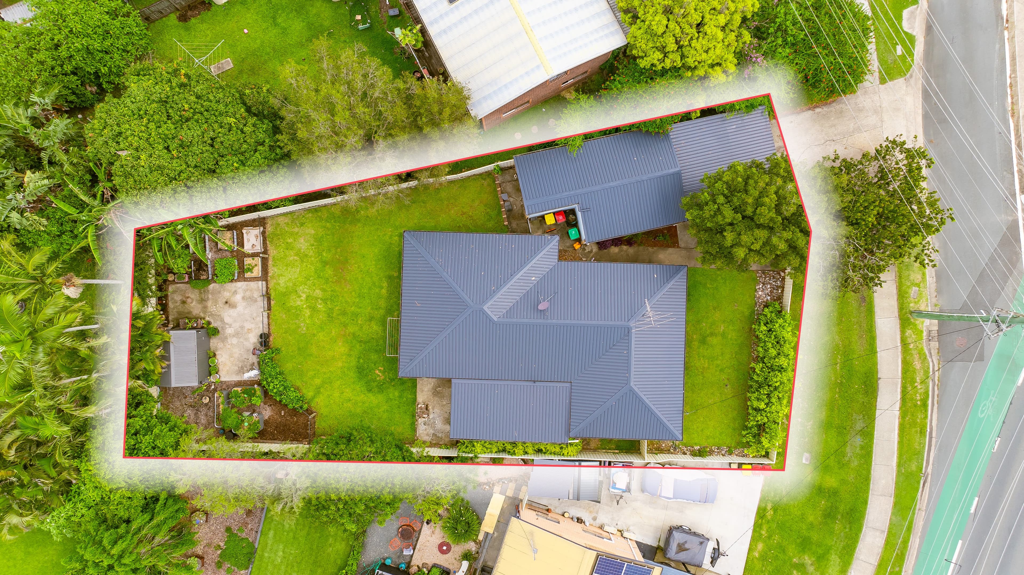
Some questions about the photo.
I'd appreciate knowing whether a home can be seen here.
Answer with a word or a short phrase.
Yes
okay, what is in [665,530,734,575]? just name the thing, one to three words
trailer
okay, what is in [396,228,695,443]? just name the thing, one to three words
house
